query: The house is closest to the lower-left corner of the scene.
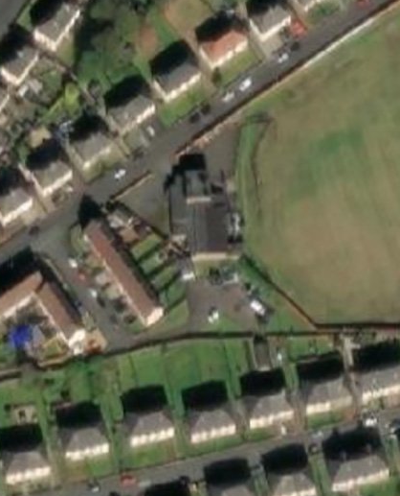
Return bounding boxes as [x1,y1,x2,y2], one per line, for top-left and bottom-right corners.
[0,438,51,484]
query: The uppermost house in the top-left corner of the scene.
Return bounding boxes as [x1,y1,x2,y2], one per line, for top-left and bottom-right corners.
[30,0,78,51]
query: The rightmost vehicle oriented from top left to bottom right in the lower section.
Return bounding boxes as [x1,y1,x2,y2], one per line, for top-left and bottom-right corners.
[249,301,266,316]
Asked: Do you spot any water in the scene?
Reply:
No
